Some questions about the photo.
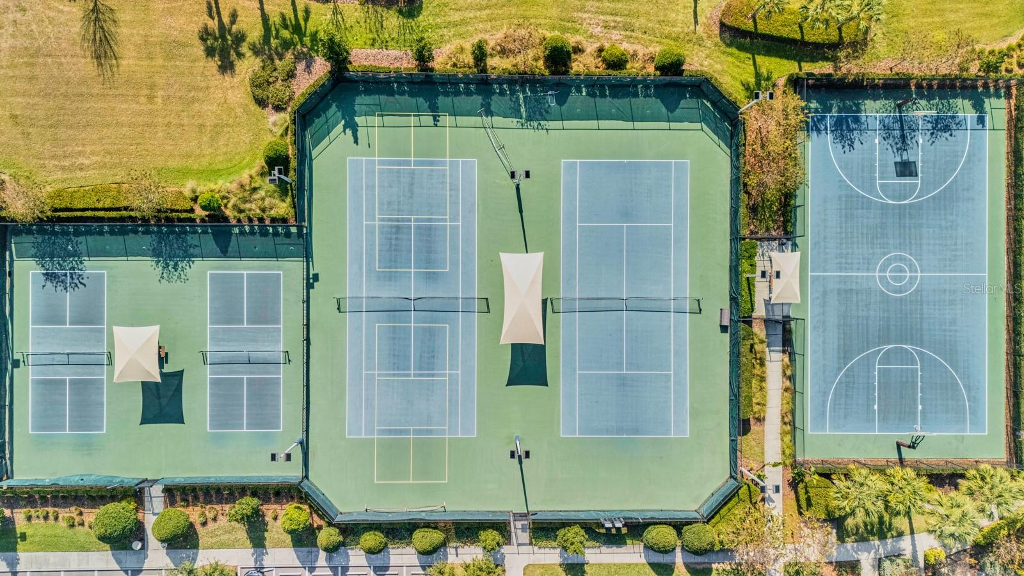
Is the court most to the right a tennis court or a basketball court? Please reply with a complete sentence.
It turns out the court most to the right is a basketball court.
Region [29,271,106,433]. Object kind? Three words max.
sports court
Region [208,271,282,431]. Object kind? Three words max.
sports court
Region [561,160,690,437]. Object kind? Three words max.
tennis court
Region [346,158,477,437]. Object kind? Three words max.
tennis court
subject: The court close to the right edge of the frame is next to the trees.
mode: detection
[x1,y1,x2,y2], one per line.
[794,88,1005,459]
